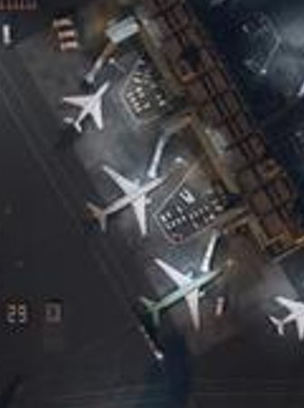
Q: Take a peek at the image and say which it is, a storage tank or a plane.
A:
plane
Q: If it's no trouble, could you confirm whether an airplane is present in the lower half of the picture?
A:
Yes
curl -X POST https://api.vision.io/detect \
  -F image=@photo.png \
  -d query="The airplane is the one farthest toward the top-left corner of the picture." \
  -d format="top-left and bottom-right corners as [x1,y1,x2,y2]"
[62,80,109,135]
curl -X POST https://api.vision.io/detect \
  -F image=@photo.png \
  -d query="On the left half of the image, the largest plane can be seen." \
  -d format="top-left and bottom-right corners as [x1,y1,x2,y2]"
[77,161,163,233]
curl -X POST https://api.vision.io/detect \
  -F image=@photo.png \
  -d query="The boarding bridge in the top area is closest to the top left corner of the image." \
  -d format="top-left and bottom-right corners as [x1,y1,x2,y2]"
[83,44,116,86]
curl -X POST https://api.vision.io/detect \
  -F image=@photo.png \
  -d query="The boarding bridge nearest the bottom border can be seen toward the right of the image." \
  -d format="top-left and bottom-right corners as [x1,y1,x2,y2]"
[197,222,228,273]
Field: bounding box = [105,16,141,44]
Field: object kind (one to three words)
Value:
building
